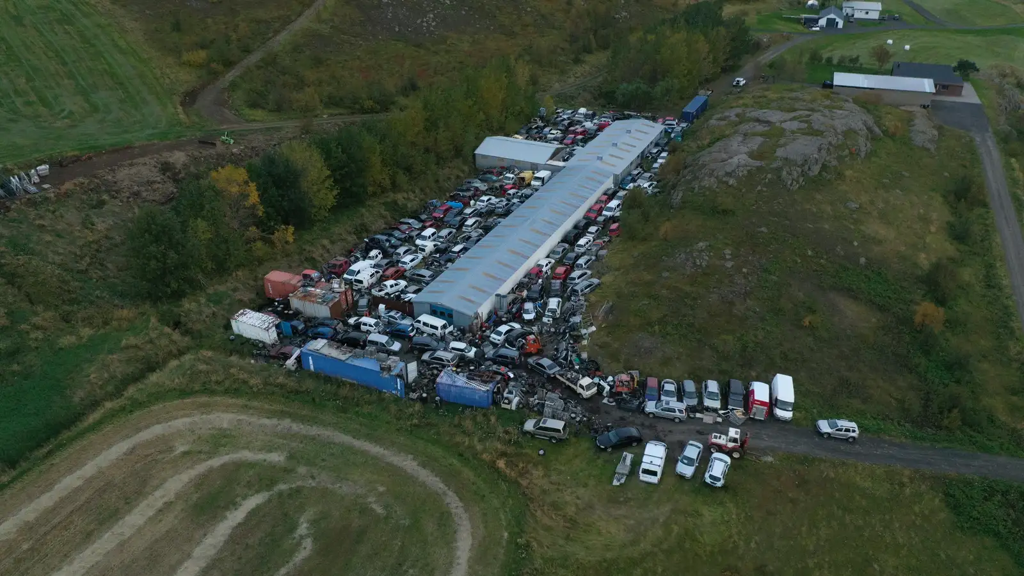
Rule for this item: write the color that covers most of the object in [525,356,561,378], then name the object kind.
gray car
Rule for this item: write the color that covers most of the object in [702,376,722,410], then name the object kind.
white car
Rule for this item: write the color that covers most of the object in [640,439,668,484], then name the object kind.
white van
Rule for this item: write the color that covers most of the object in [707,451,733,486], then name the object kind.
white car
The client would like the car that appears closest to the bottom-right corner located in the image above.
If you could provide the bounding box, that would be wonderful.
[816,418,861,442]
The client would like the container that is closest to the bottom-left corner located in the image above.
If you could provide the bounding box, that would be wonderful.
[230,307,284,345]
